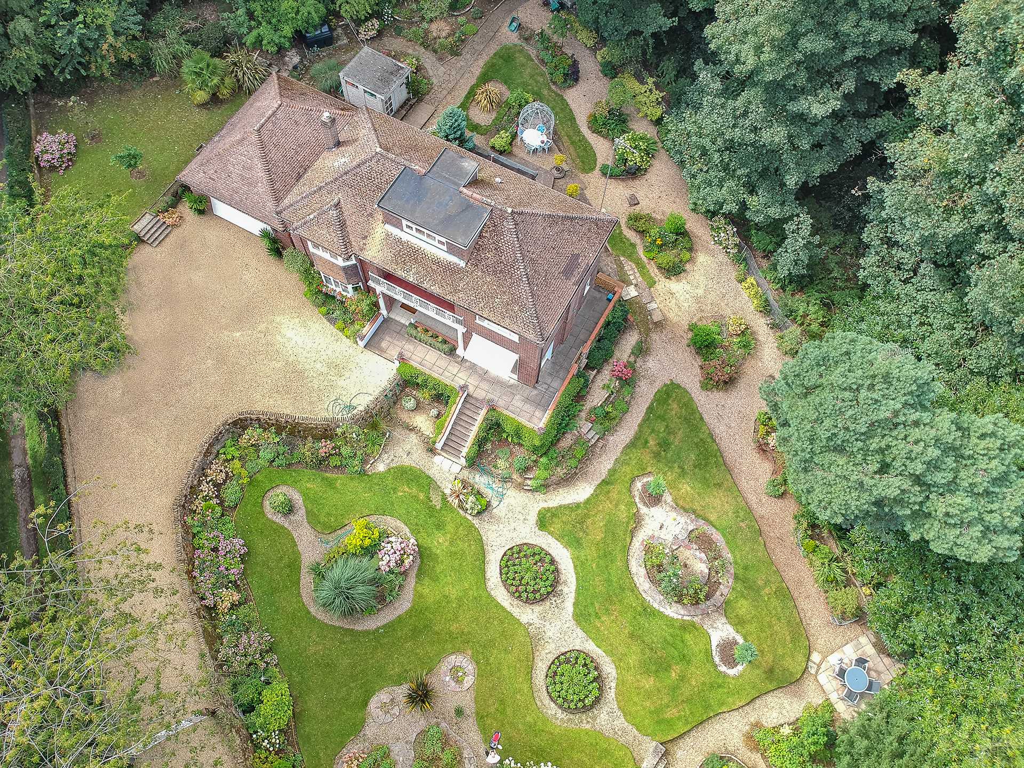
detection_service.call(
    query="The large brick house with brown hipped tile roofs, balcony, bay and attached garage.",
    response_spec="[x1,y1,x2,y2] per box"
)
[176,74,627,383]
